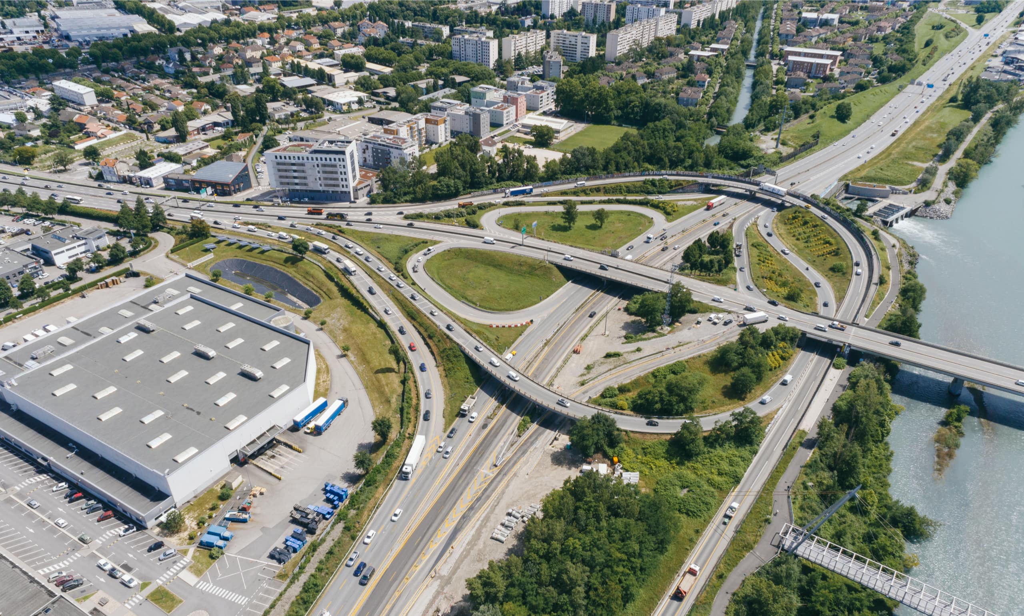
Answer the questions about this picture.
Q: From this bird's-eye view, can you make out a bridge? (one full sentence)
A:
Yes, the image includes a bridge.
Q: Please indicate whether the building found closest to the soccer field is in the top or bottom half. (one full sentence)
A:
The top half of the photo is where the building found closest to the soccer field is.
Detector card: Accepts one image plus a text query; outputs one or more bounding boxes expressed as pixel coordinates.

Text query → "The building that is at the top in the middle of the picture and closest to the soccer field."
[522,115,573,140]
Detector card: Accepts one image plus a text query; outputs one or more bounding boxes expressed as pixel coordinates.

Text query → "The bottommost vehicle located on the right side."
[678,563,701,597]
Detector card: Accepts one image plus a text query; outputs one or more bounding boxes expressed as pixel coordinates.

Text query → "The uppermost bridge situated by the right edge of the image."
[788,308,1024,407]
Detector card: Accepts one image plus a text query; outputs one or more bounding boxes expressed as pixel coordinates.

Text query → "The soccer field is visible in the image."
[551,124,630,152]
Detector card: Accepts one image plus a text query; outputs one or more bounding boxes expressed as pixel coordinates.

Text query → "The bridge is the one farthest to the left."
[458,334,592,422]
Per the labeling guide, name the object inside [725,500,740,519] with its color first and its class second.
white vehicle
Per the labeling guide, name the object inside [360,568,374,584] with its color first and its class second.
gray car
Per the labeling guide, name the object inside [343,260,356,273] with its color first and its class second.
white vehicle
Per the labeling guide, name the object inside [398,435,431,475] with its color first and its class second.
white truck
